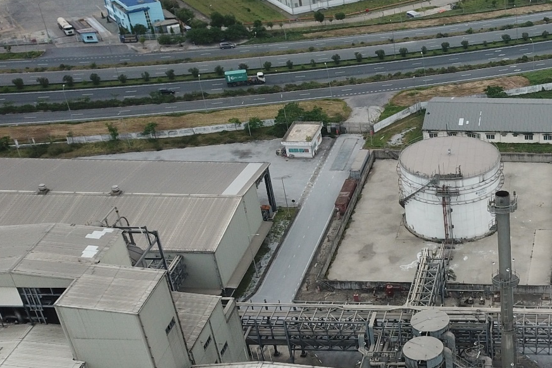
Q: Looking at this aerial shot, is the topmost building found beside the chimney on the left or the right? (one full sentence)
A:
You can find the topmost building found beside the chimney on the right side of the picture.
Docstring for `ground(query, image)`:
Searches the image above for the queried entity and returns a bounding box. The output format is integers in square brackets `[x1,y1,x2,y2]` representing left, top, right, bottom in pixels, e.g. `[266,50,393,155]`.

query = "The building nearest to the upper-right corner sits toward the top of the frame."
[405,103,552,142]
